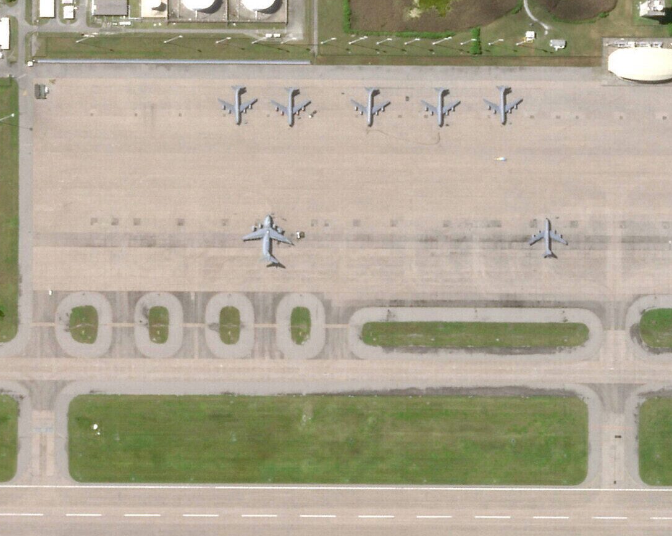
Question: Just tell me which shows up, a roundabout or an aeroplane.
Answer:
aeroplane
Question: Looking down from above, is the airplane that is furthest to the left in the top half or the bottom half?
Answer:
top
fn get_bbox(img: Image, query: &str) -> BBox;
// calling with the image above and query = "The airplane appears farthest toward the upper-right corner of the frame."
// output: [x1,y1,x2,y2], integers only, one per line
[485,82,523,122]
